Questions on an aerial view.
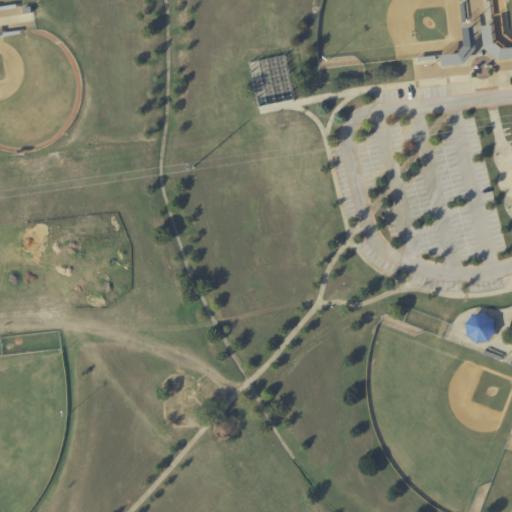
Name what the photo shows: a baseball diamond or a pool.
baseball diamond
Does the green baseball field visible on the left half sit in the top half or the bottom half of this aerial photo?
bottom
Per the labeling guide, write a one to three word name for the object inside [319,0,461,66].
baseball field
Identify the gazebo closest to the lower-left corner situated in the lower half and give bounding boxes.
[214,420,234,439]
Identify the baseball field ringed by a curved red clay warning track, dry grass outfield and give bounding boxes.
[0,28,83,153]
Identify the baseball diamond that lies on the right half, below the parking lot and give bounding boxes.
[368,319,512,512]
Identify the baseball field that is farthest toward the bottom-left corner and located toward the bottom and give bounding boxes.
[0,332,66,512]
